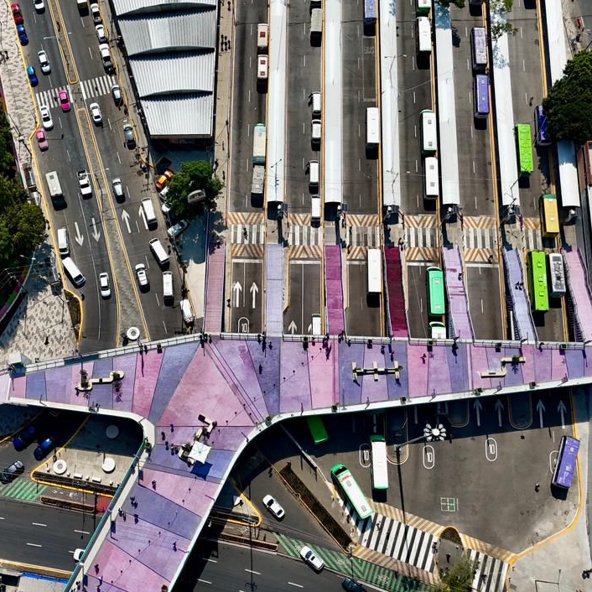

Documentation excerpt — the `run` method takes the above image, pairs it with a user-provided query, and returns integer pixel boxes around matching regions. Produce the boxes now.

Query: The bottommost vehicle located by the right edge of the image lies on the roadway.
[548,436,577,488]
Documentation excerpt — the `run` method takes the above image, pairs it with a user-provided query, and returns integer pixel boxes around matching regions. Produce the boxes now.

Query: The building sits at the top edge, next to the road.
[114,0,217,151]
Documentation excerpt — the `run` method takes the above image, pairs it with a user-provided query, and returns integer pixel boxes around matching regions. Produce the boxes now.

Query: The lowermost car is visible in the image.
[341,576,367,592]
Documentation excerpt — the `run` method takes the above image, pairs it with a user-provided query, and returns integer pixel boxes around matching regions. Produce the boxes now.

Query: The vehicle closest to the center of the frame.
[309,316,322,336]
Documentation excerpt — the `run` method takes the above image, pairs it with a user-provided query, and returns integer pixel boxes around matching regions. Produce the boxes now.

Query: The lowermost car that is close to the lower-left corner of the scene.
[72,548,88,561]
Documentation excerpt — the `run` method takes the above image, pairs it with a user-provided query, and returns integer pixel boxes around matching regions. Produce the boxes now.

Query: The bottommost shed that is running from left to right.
[19,571,69,592]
